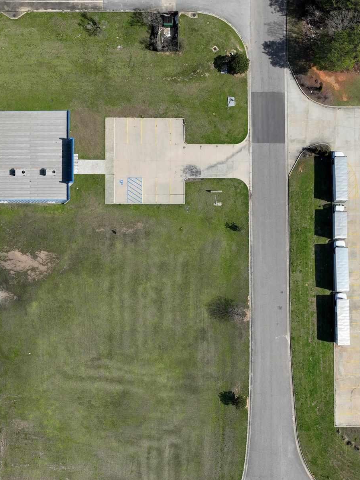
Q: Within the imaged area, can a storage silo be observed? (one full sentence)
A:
No, the scene contains no storage silo.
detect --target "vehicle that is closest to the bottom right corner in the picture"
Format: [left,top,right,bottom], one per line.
[330,293,349,345]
